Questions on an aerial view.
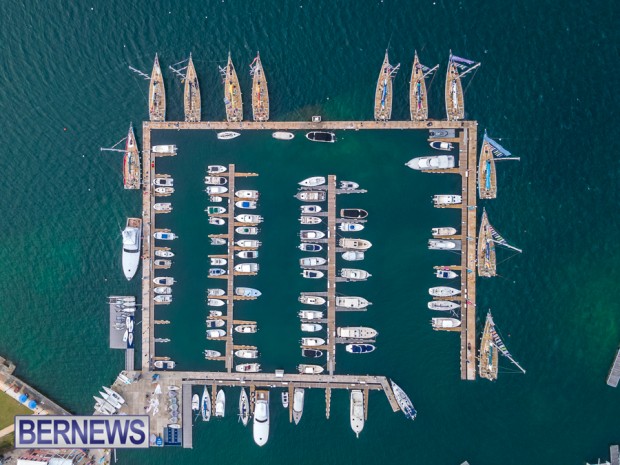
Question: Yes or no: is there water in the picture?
Yes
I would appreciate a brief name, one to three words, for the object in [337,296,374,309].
boat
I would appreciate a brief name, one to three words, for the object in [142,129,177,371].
pier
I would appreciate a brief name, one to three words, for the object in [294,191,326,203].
boat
